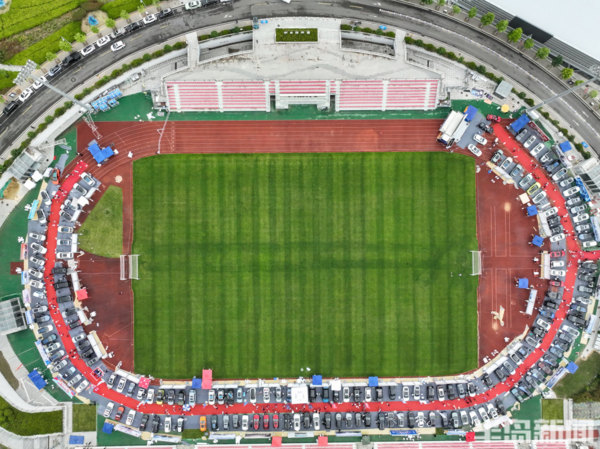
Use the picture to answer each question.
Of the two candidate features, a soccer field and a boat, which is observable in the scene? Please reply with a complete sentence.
Of the two, only a soccer field appears.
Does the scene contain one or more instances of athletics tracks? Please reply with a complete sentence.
Yes, there's an athletics track down there.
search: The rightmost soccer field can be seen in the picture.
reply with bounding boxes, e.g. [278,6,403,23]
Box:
[134,152,478,380]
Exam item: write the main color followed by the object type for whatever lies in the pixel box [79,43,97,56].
white vehicle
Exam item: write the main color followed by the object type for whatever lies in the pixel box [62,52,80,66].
black car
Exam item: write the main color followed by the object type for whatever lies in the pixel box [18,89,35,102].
white vehicle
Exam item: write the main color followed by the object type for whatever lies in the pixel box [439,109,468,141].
white truck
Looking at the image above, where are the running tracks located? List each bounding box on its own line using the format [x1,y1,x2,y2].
[23,120,551,387]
